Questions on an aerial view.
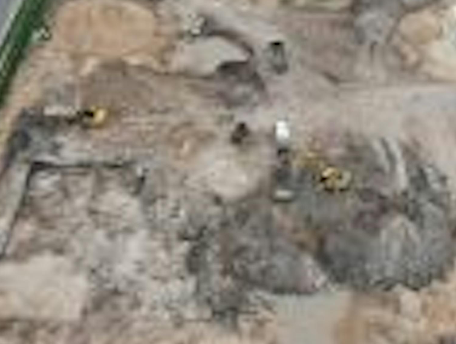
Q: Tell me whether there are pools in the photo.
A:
No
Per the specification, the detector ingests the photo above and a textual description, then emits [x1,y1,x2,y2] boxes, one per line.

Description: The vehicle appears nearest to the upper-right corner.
[270,35,288,71]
